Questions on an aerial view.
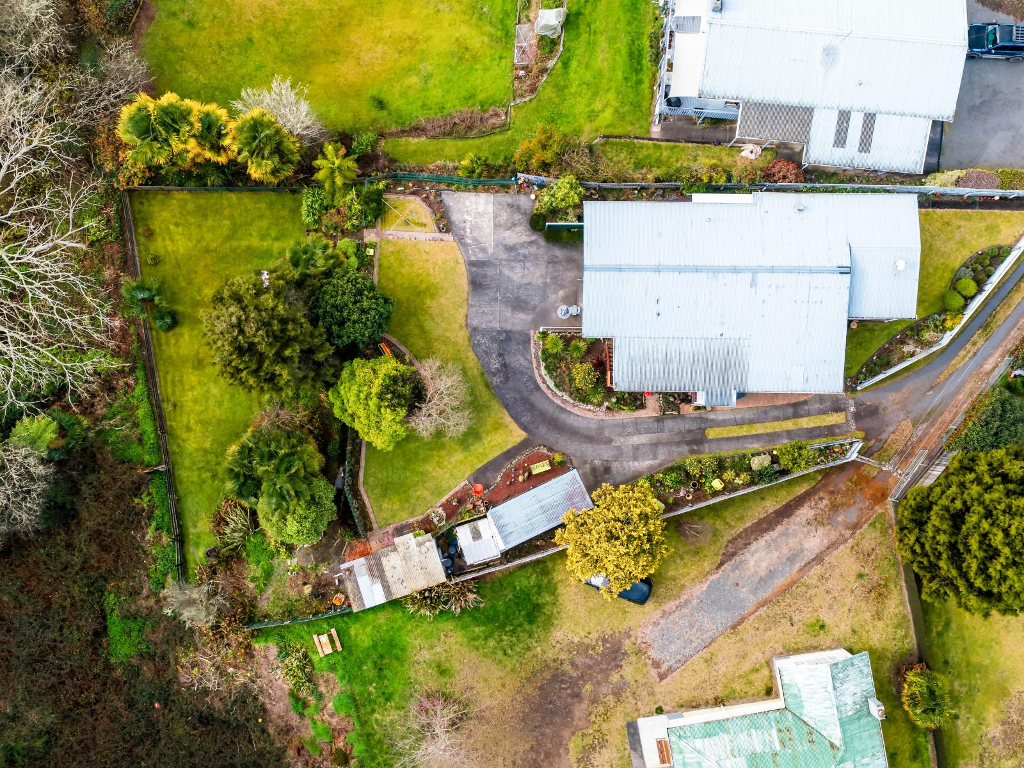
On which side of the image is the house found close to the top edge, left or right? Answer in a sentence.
You can find the house found close to the top edge on the right side of the picture.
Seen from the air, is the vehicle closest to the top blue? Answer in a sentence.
Yes, blue is the color of the vehicle closest to the top.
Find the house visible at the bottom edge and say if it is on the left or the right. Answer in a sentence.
The house visible at the bottom edge sits on the right side.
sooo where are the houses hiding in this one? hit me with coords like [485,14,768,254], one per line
[581,190,922,407]
[655,0,980,176]
[636,648,893,768]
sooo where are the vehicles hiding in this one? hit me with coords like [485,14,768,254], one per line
[967,13,1024,61]
[577,569,655,609]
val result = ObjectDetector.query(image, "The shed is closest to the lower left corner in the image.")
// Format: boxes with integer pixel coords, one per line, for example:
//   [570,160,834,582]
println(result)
[341,532,446,612]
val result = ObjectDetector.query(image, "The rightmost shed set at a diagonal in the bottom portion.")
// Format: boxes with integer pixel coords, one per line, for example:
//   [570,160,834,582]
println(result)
[487,468,592,553]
